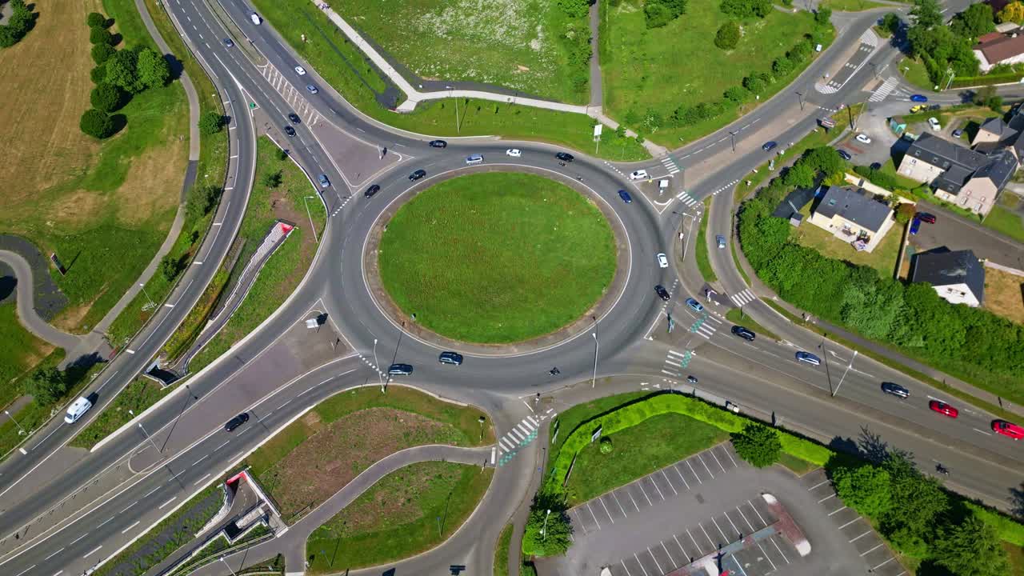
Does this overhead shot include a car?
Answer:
Yes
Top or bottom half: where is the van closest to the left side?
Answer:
bottom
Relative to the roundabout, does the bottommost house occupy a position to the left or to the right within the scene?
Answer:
to its right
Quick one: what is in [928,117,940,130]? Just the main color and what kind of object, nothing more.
white vehicle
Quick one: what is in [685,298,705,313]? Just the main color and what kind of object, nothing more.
blue car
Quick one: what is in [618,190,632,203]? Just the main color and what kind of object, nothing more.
blue vehicle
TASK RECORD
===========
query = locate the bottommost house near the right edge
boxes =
[918,249,987,305]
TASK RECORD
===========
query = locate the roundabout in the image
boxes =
[277,122,708,433]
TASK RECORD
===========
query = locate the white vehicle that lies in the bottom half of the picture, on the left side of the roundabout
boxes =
[63,392,96,425]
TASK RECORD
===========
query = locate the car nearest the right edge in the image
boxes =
[993,422,1022,439]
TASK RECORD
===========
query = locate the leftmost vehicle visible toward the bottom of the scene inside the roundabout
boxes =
[388,363,413,376]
